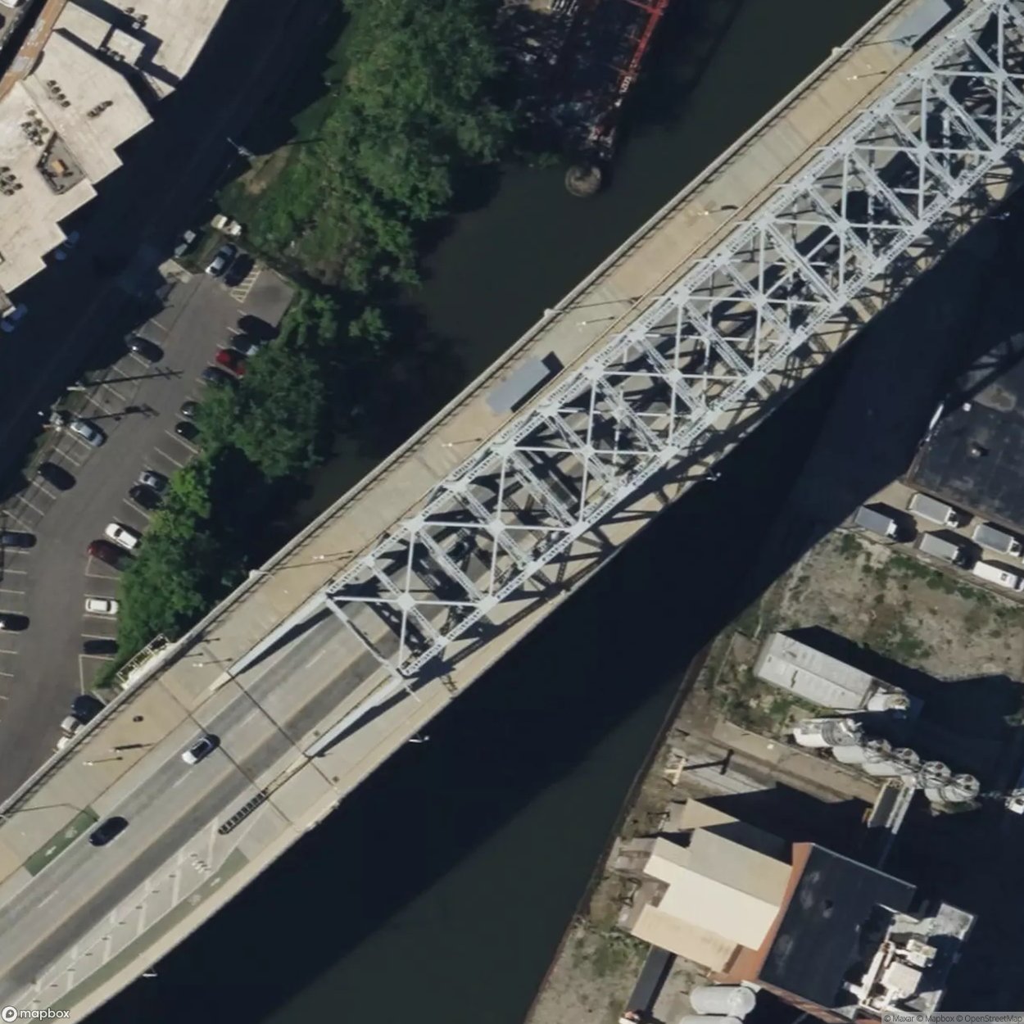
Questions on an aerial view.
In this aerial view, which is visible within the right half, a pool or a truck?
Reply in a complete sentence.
You can see a truck within the right half.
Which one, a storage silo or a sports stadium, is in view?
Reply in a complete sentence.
The one in the frame is a storage silo.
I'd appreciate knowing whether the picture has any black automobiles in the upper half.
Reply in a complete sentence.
Yes, you'll find a black automobile in the upper half.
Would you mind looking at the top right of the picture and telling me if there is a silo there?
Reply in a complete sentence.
No, no silo can be made out at the top right of the picture.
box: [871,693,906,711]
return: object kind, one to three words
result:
silo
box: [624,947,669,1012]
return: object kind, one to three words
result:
shed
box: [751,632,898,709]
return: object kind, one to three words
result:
shed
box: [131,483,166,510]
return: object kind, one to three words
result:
car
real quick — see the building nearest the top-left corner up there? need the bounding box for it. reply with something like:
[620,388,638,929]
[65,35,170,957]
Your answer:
[0,0,232,320]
